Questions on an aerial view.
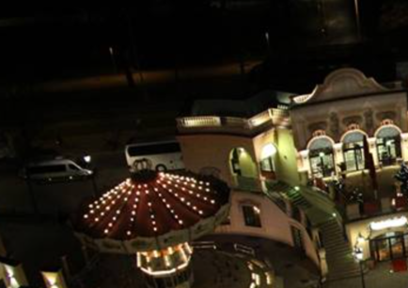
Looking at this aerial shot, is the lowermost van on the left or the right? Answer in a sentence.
The lowermost van appears in the left half of the scene.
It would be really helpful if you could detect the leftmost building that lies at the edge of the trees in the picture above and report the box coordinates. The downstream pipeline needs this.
[159,92,314,276]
